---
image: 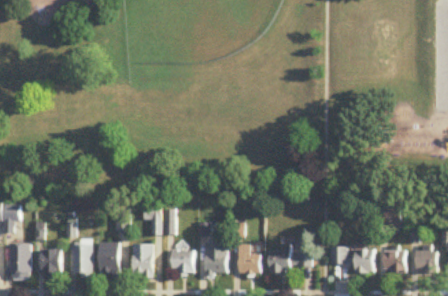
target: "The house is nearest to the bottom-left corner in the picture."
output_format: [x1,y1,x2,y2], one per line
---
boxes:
[13,244,34,280]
